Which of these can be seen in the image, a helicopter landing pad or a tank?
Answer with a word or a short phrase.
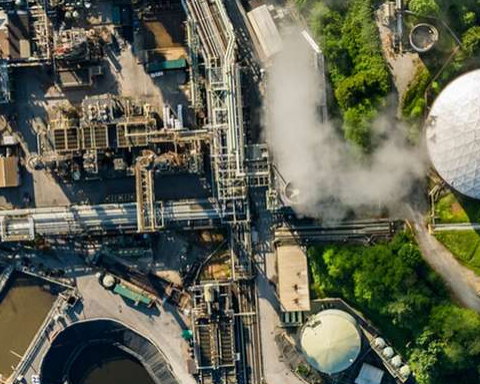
tank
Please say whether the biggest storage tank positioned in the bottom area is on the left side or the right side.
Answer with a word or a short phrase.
right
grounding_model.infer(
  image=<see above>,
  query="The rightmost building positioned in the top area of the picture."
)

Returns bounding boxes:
[272,48,322,163]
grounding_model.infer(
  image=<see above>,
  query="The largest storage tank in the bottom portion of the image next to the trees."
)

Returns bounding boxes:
[297,305,363,373]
